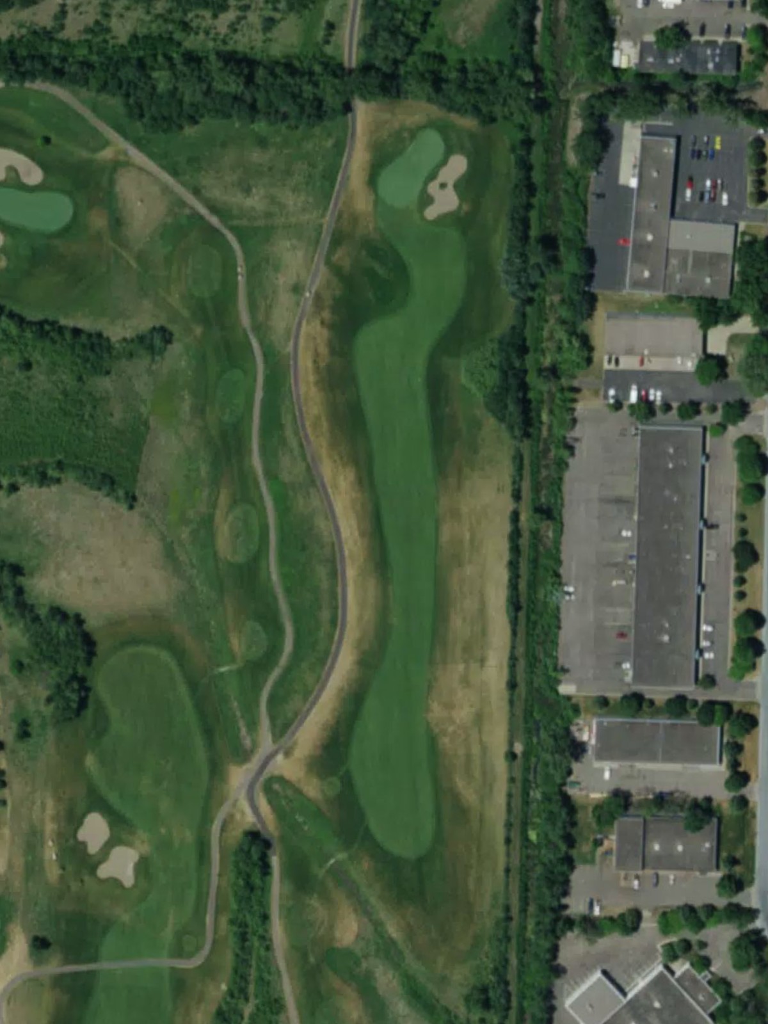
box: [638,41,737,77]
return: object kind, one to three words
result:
building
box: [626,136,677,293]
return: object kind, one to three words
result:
building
